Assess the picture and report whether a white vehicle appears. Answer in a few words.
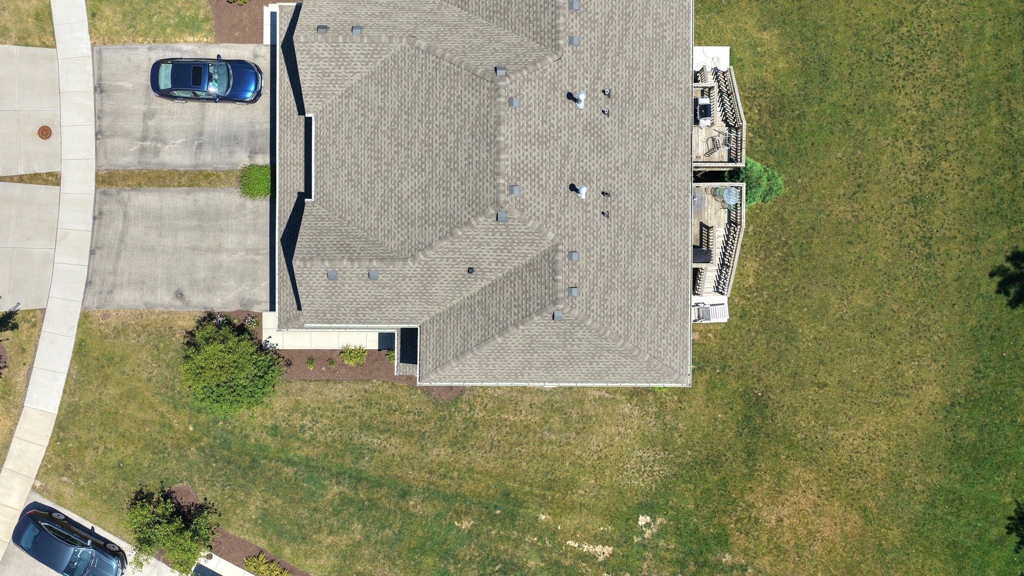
No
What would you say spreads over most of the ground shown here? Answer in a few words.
grass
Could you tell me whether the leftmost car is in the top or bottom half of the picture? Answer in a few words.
bottom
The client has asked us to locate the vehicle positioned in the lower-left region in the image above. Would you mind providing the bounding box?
[12,509,128,576]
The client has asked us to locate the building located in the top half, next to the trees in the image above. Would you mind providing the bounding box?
[276,0,694,386]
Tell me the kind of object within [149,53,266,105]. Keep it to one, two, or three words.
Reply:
car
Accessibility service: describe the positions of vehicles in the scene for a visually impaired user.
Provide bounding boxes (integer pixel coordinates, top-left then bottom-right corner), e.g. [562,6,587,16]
[149,53,266,105]
[12,509,128,576]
